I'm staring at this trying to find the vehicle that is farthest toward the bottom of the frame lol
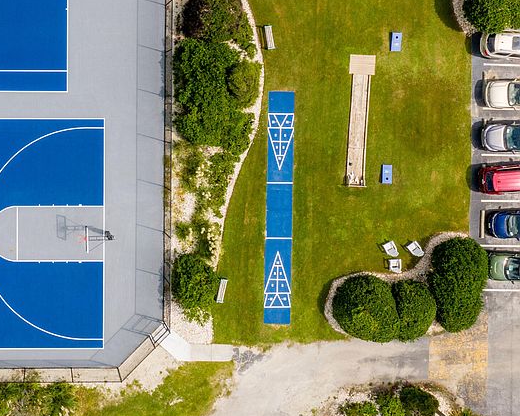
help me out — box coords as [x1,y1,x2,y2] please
[488,251,520,283]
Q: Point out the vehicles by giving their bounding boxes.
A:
[482,122,520,155]
[483,78,520,111]
[490,209,520,243]
[488,251,520,283]
[477,32,520,61]
[476,166,520,195]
